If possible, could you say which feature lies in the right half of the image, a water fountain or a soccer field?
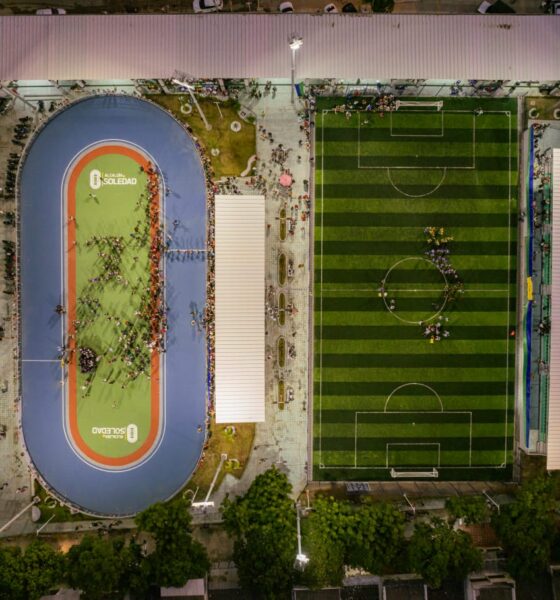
soccer field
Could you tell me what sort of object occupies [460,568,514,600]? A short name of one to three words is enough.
house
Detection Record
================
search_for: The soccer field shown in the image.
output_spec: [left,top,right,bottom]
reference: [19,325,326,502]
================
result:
[311,96,519,482]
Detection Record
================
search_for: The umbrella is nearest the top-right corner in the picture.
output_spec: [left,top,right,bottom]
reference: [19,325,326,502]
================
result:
[279,173,293,186]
